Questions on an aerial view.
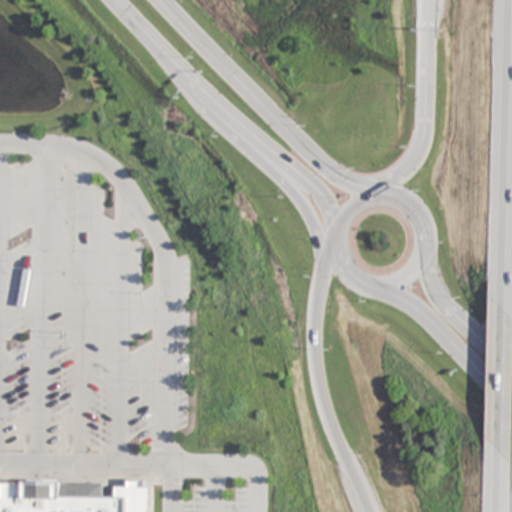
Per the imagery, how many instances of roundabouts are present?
1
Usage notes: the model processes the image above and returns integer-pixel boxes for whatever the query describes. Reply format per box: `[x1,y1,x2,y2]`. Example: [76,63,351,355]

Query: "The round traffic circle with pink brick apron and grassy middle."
[328,183,440,292]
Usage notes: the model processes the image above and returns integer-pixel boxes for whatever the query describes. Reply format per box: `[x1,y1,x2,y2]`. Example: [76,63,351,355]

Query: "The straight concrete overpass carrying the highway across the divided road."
[484,267,512,455]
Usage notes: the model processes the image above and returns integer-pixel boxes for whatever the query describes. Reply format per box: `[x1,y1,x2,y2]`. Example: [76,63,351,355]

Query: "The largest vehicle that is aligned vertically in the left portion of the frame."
[18,260,32,306]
